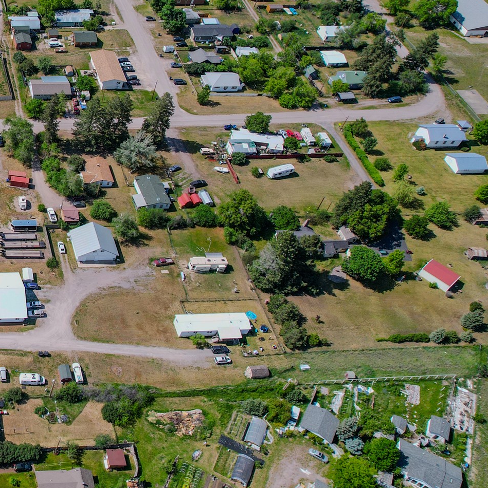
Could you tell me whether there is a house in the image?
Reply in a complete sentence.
Yes, the photo shows a house.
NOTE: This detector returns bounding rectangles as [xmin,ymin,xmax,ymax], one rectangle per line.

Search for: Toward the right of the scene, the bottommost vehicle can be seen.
[309,450,329,463]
